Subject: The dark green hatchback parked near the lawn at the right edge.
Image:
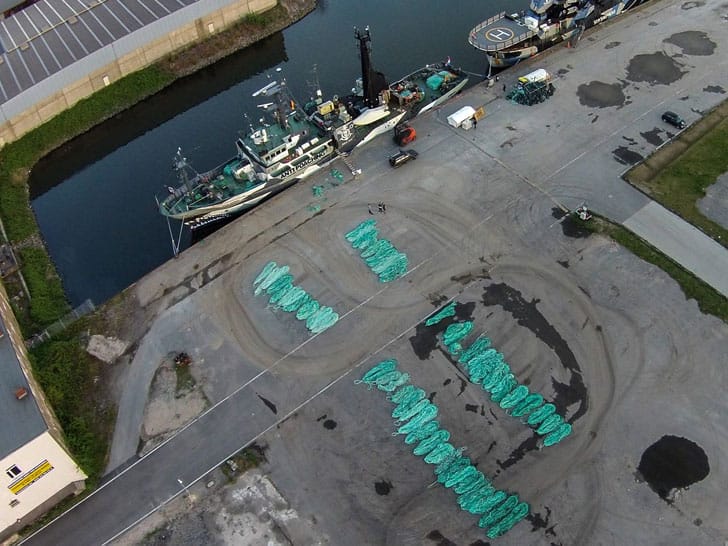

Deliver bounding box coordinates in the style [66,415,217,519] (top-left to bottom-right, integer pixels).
[660,106,690,126]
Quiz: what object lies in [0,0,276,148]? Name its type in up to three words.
warehouse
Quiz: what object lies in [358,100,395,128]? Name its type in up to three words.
boat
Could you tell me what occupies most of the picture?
paved ground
